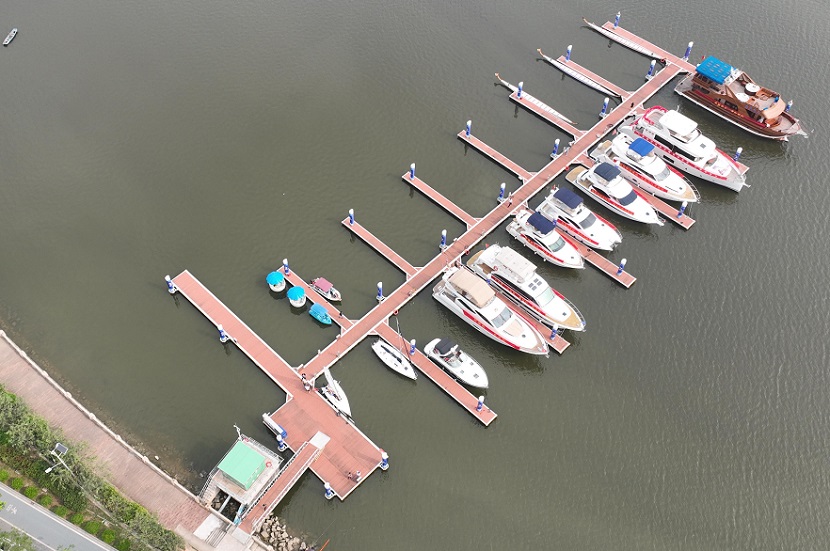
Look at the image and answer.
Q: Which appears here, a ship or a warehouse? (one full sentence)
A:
This aerial view contains a ship.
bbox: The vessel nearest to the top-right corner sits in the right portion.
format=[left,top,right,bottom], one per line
[672,53,809,139]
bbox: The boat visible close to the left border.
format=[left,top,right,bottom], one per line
[2,28,17,46]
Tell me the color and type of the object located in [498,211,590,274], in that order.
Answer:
white boat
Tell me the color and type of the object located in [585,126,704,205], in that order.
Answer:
white boat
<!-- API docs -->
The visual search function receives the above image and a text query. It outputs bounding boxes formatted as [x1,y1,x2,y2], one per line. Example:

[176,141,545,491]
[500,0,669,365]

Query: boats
[306,301,331,327]
[498,211,590,274]
[268,274,286,293]
[288,288,306,308]
[457,243,588,335]
[310,276,339,303]
[612,94,748,190]
[494,70,580,126]
[582,13,665,64]
[558,154,669,227]
[536,45,621,100]
[524,179,622,253]
[425,338,489,390]
[422,265,550,362]
[370,319,419,379]
[585,126,704,205]
[2,28,17,46]
[318,361,355,416]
